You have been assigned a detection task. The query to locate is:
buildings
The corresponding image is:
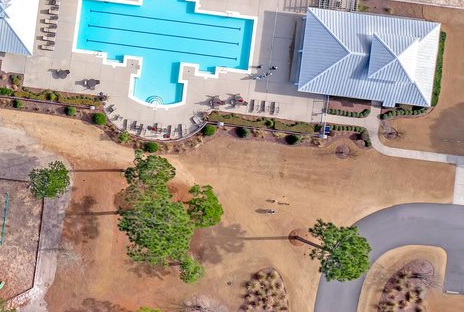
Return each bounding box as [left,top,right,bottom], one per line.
[293,8,441,108]
[0,0,40,56]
